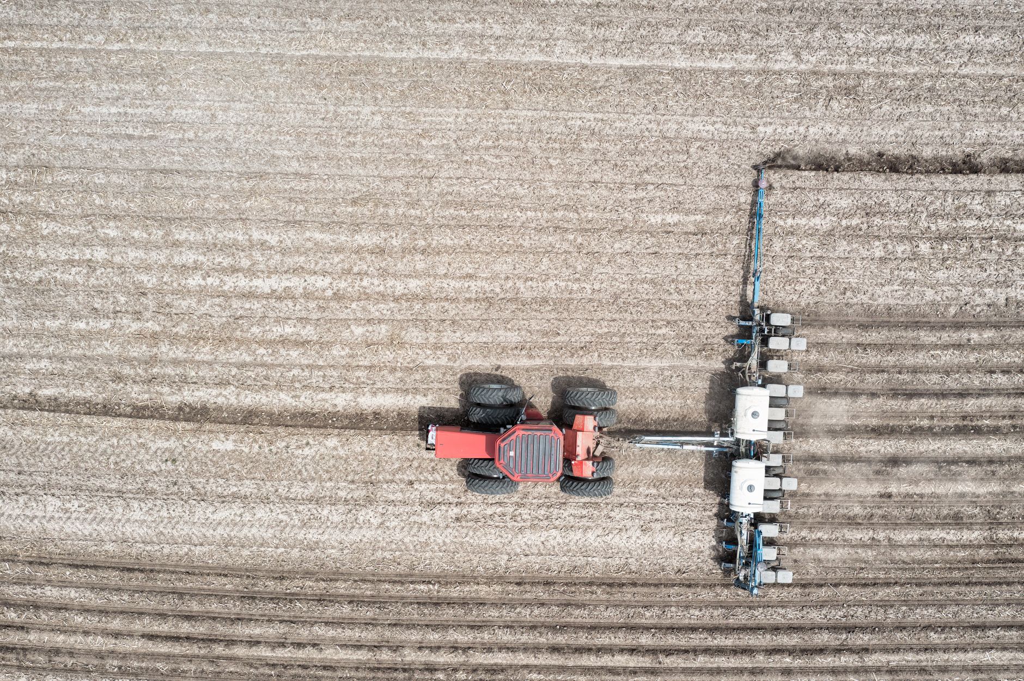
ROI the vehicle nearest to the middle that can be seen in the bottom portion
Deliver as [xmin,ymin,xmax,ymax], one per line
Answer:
[425,383,630,496]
